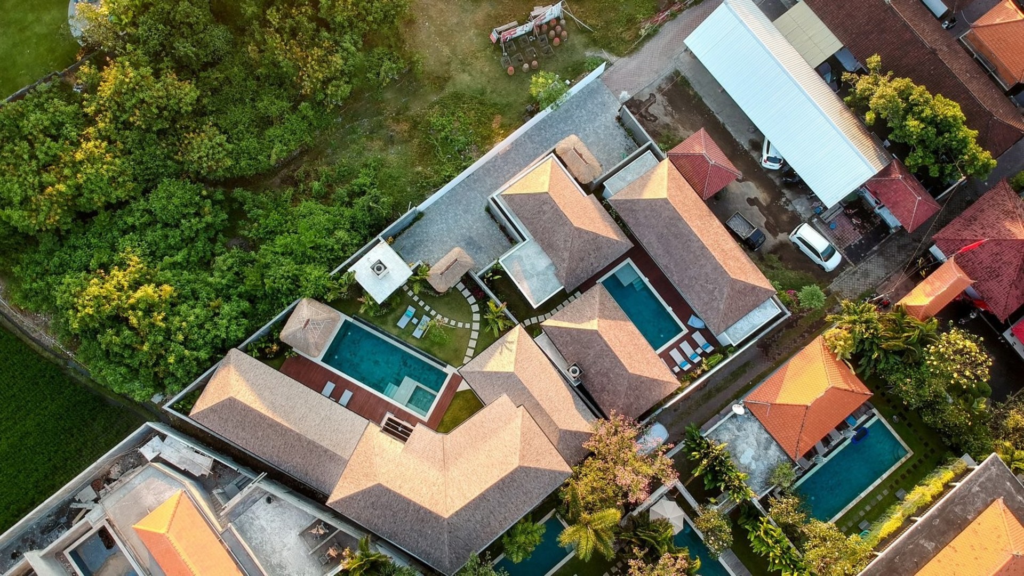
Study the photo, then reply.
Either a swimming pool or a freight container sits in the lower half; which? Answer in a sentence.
Visible in the lower half is a swimming pool.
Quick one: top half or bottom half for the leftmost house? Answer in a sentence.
It is in the bottom half that the leftmost house appears.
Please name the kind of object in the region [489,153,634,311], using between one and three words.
house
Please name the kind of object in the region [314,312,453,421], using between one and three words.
swimming pool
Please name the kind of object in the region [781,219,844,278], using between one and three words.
car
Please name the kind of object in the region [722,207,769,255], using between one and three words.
truck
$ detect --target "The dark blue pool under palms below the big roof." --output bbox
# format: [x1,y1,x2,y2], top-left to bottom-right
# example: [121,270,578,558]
[475,509,582,576]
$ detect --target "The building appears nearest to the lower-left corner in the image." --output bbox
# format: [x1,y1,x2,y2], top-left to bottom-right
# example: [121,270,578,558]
[99,461,259,576]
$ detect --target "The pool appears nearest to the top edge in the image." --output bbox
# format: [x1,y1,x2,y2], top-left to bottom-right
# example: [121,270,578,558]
[600,256,689,354]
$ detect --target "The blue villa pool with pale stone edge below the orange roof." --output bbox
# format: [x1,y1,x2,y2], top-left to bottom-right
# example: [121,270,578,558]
[791,415,916,521]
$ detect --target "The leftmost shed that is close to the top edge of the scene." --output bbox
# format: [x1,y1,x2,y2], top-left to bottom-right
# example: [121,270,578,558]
[684,0,893,208]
